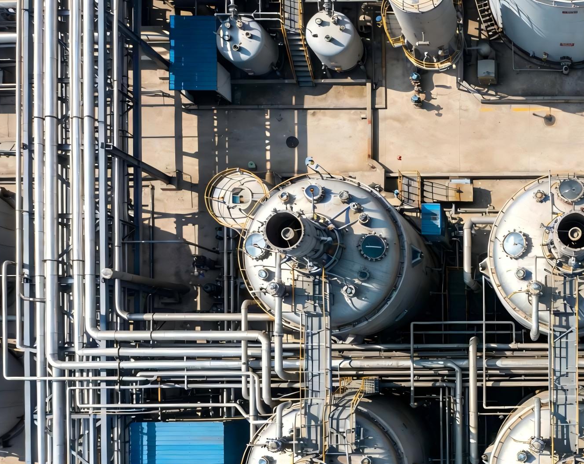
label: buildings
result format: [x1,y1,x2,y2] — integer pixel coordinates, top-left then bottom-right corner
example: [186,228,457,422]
[129,417,262,464]
[170,15,231,102]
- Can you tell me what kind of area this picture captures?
industrial area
